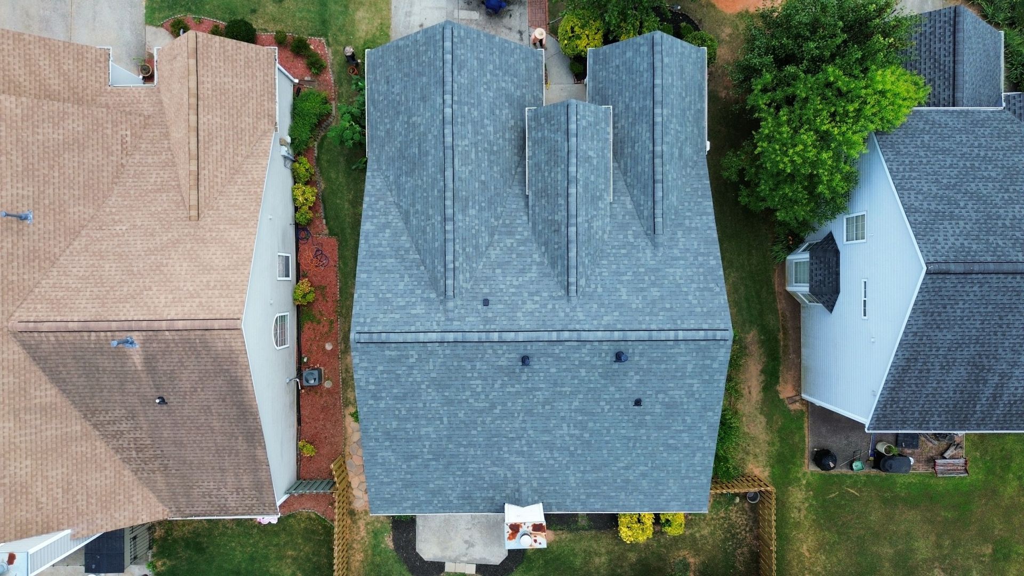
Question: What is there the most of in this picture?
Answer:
buildings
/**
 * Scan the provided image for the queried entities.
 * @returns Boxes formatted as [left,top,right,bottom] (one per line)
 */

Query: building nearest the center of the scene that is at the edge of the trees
[351,24,733,548]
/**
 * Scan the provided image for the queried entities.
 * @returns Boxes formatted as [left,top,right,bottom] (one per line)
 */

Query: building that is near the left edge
[0,29,302,576]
